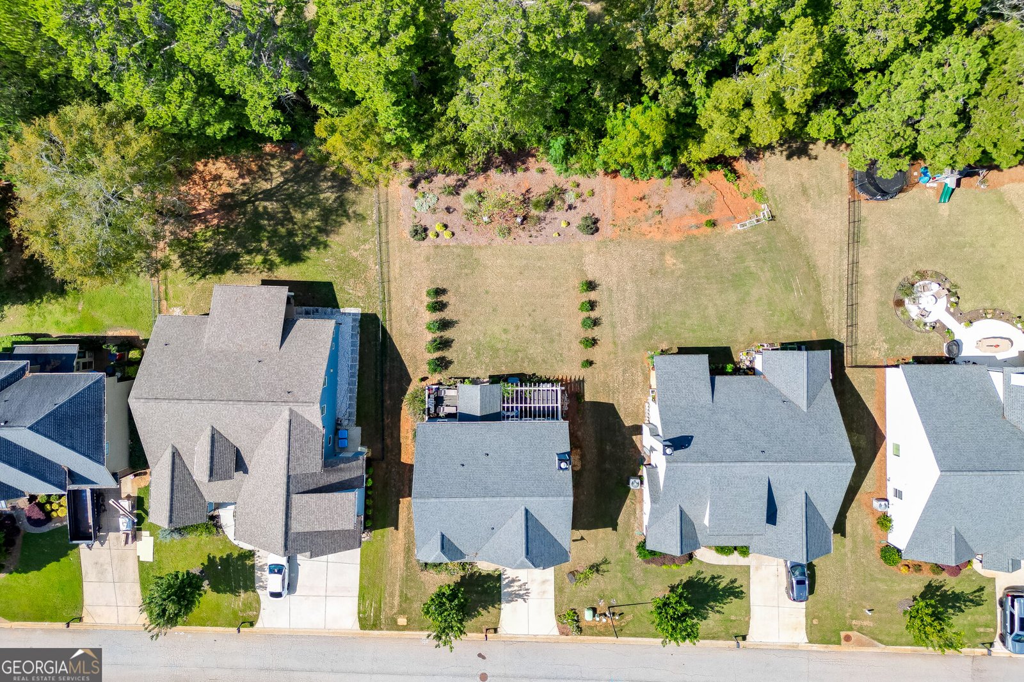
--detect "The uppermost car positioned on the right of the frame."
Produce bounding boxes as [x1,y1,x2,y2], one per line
[782,559,809,602]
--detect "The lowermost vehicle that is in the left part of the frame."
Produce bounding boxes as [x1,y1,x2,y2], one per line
[265,551,291,600]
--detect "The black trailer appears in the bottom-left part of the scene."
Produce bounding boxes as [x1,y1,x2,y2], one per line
[68,488,109,553]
